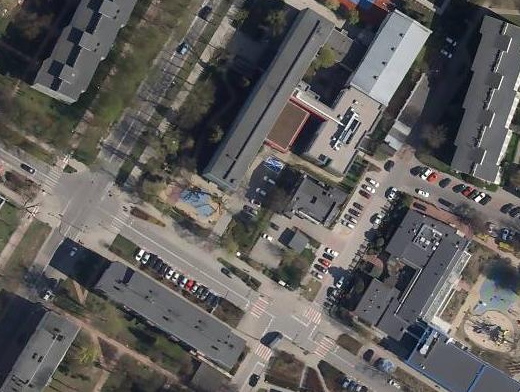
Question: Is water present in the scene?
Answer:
No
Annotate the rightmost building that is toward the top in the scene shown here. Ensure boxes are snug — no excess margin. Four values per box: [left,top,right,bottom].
[452,15,520,188]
